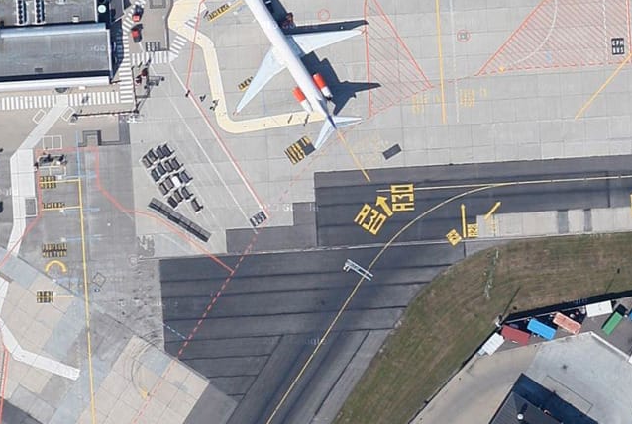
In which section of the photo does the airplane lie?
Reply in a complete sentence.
The airplane appears toward the top of the photo.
